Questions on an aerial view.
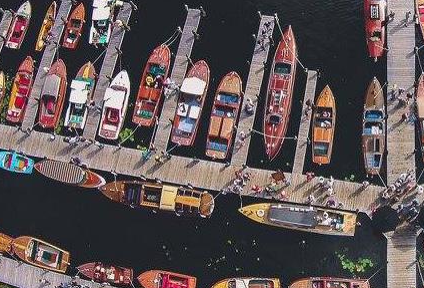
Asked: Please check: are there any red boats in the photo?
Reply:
Yes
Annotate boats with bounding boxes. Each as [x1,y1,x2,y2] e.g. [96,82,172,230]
[11,237,72,272]
[62,2,86,50]
[205,70,243,162]
[35,58,68,130]
[98,175,222,215]
[6,0,31,50]
[362,0,387,65]
[99,52,130,142]
[37,1,57,51]
[5,56,34,123]
[246,16,306,161]
[416,0,424,50]
[291,268,386,288]
[238,199,360,236]
[306,84,337,173]
[412,51,424,184]
[136,269,198,288]
[89,0,115,46]
[0,70,7,114]
[0,150,36,175]
[0,231,22,262]
[75,260,133,288]
[211,276,280,288]
[168,57,213,155]
[33,159,107,190]
[363,77,387,186]
[118,30,178,147]
[65,61,111,130]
